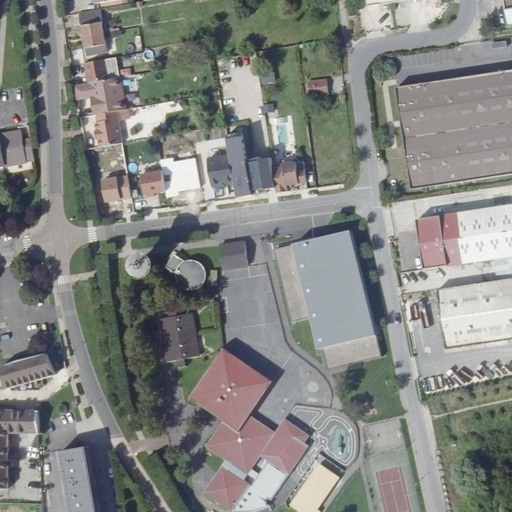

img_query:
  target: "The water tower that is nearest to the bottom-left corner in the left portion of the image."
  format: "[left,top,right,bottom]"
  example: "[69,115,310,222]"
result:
[122,250,154,278]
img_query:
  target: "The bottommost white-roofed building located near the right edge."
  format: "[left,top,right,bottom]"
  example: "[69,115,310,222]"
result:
[438,278,512,347]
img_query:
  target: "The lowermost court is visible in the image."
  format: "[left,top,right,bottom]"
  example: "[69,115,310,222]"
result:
[369,448,423,512]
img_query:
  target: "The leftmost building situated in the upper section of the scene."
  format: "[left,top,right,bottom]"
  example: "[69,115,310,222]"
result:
[0,130,34,172]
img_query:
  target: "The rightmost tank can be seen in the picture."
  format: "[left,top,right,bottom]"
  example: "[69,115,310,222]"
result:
[166,242,206,289]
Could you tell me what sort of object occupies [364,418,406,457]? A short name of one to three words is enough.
basketball court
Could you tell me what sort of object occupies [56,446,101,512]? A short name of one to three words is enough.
building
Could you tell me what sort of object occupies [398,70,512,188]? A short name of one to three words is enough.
warehouse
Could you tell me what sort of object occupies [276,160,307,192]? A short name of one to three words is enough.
house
